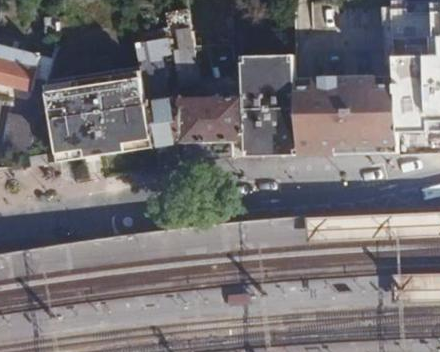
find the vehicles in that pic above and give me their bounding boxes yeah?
[234,184,255,194]
[399,160,422,172]
[362,168,383,179]
[256,181,278,192]
[420,184,440,201]
[324,8,334,29]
